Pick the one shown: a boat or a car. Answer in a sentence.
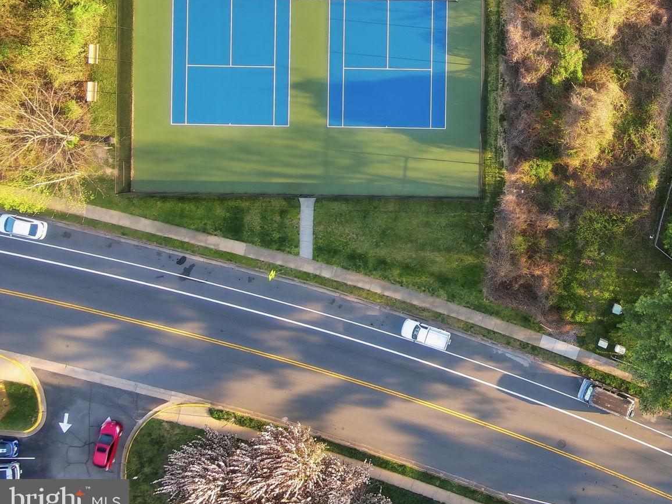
The one in the frame is a car.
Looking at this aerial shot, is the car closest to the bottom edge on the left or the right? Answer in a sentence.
You can find the car closest to the bottom edge on the left side of the picture.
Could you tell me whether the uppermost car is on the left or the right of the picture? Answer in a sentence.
You can find the uppermost car on the left side of the picture.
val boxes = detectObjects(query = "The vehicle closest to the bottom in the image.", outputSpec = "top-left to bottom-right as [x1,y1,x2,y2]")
[0,460,23,483]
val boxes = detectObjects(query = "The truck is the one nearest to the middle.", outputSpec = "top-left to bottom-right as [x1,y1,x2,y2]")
[399,317,455,352]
